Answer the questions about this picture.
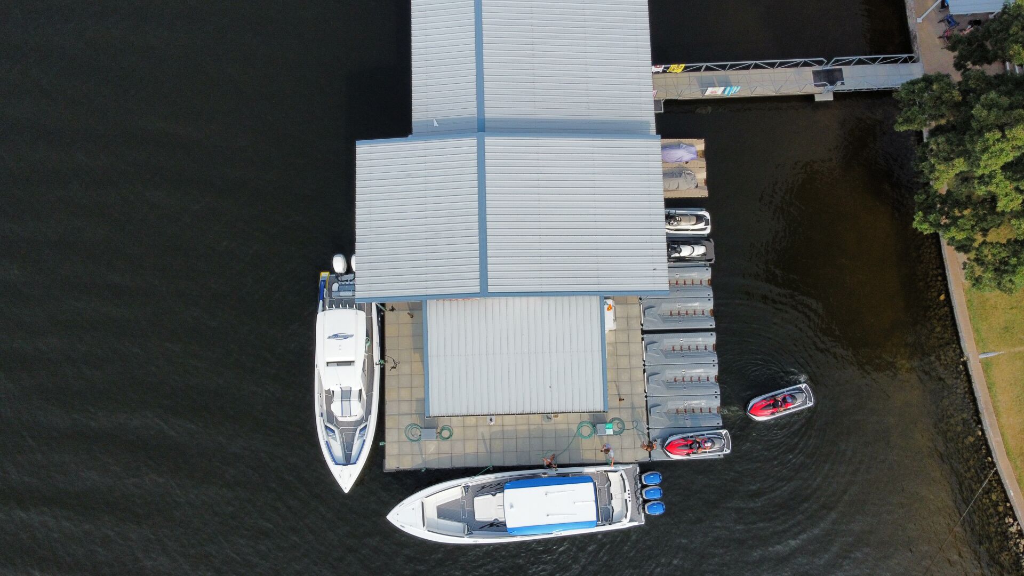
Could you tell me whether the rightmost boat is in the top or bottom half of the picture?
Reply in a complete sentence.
It is in the bottom half that the rightmost boat appears.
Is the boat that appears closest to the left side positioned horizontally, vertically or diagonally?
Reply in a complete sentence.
From this overhead view, the boat that appears closest to the left side appears to run vertically.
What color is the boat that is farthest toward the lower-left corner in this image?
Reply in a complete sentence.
The color of the boat that is farthest toward the lower-left corner is white.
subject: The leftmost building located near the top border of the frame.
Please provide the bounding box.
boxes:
[411,0,657,137]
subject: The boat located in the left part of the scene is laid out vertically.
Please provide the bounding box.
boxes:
[314,255,380,492]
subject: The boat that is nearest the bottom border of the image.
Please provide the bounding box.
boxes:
[384,464,665,543]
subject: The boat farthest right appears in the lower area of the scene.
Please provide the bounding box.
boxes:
[746,384,813,419]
